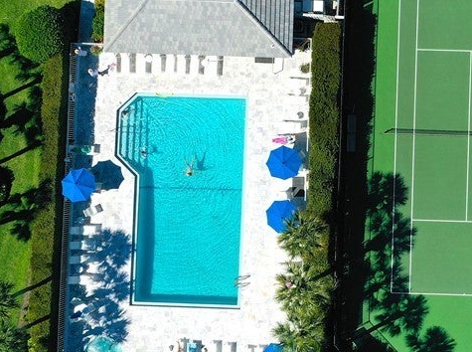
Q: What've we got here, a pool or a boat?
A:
pool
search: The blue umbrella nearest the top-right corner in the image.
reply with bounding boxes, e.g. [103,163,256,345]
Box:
[267,144,301,179]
